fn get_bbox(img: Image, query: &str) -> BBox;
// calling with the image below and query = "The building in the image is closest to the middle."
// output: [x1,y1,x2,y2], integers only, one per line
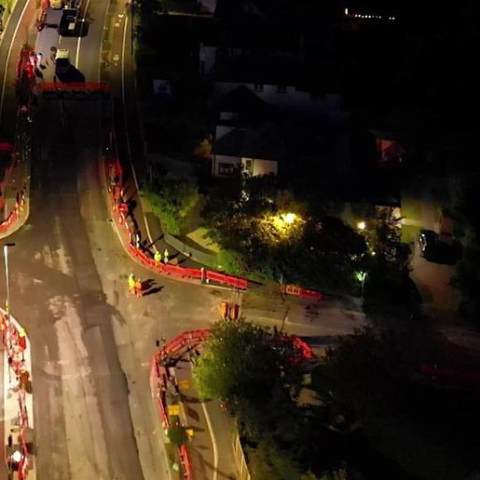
[208,115,286,181]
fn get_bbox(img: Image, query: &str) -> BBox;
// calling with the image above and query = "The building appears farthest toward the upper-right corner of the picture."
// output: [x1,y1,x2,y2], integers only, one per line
[363,105,416,167]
